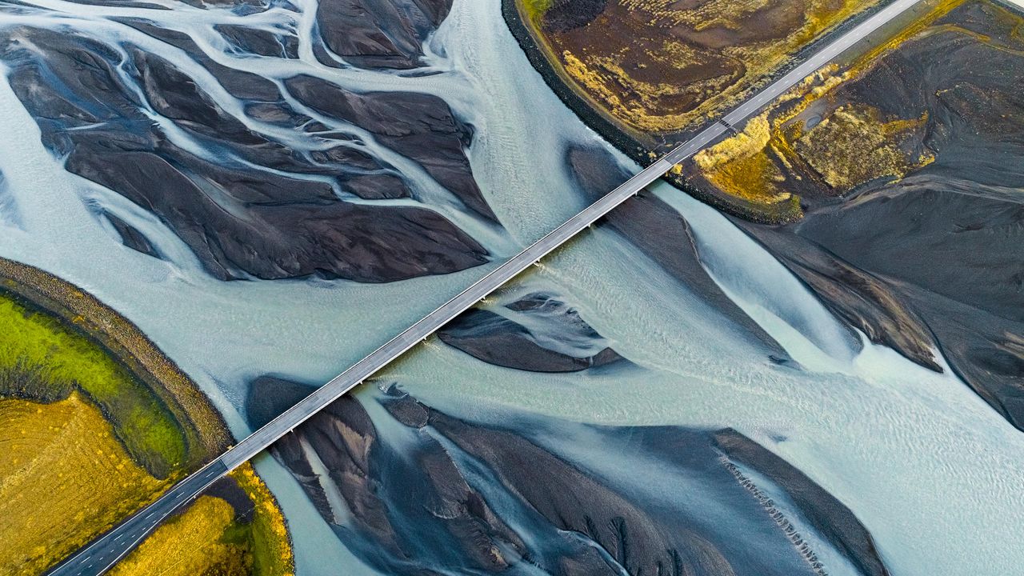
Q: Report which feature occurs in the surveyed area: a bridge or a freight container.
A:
bridge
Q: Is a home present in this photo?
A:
No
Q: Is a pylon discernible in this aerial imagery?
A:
No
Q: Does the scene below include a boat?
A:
No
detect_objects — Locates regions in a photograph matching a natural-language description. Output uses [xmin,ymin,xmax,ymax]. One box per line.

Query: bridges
[219,157,673,472]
